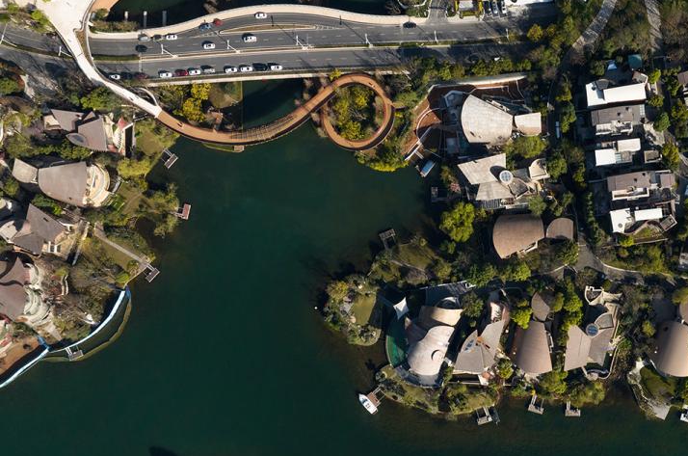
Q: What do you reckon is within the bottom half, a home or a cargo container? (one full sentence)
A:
It is a home that can be seen within the bottom half.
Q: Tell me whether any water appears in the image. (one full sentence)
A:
Yes, water shows up in the scene.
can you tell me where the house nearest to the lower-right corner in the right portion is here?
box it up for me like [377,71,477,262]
[646,303,688,378]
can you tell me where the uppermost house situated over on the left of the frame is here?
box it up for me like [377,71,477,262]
[44,110,141,156]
